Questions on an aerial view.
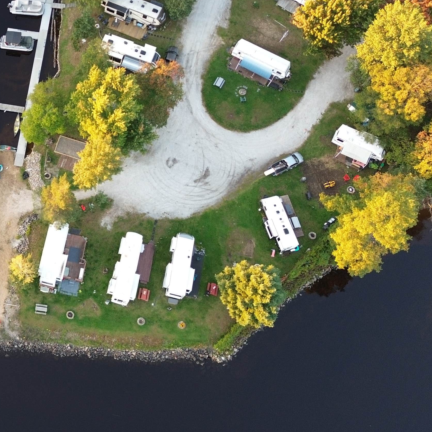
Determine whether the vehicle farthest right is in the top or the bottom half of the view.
top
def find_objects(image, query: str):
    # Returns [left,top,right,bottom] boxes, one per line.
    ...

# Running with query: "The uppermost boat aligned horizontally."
[5,0,44,16]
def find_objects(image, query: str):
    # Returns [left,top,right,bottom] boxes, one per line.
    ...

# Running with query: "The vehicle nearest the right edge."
[331,125,382,173]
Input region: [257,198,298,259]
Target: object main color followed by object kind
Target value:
white vehicle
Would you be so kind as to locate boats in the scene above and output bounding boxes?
[13,113,20,137]
[5,0,44,16]
[0,30,34,51]
[0,145,17,150]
